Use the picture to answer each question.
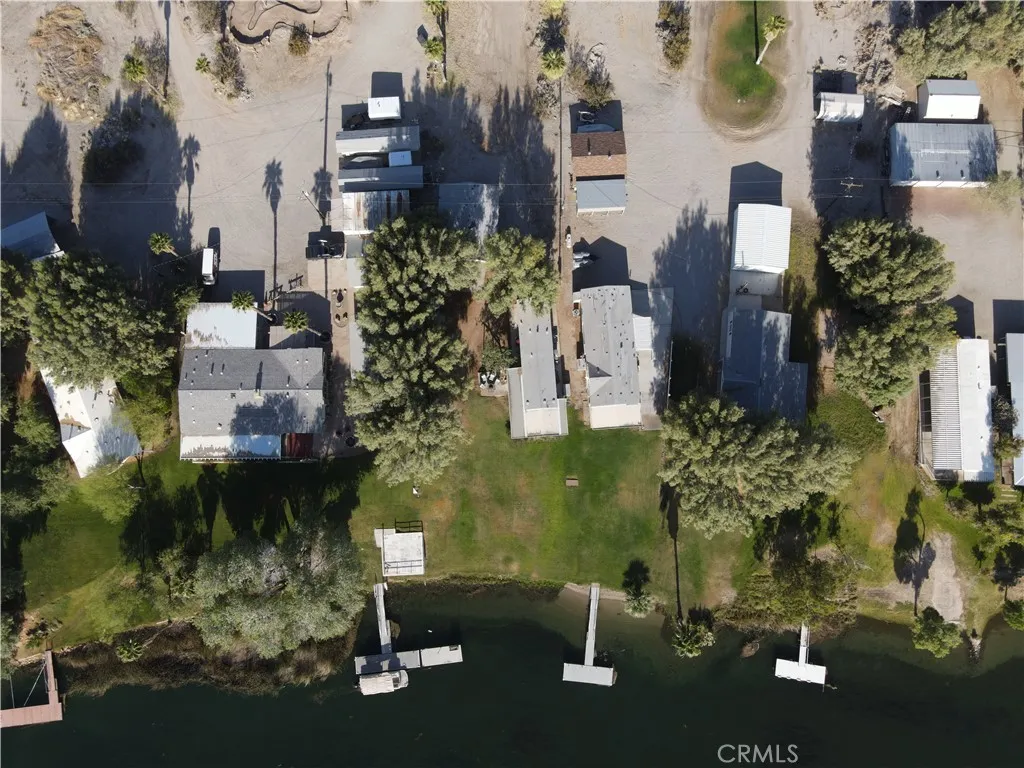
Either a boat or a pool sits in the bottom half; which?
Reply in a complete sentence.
The one visible in the bottom half is a boat.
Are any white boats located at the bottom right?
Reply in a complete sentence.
No, no white boat appears at the bottom right.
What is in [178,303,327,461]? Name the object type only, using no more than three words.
house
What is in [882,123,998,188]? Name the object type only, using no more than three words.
building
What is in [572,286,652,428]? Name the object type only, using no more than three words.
house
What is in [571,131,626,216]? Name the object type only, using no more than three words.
shed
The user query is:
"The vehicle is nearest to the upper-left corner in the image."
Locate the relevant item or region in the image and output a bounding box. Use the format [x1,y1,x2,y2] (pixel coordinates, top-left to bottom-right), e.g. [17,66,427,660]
[200,248,219,285]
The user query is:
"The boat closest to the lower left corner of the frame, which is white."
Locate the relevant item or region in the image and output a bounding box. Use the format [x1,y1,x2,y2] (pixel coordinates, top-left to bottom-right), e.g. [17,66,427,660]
[358,671,411,700]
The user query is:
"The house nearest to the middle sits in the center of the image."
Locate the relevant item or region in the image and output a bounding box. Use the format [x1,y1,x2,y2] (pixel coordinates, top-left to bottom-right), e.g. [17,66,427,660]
[507,301,568,438]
